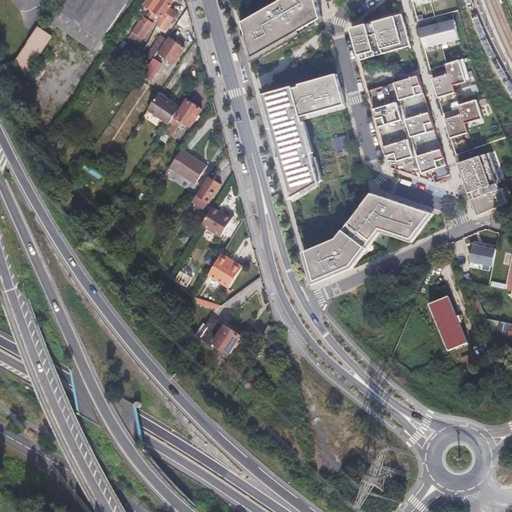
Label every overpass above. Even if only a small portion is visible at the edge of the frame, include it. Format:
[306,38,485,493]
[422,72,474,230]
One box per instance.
[0,222,126,512]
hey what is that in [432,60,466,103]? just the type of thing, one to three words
house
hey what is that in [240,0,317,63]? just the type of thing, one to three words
building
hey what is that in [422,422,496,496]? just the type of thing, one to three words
roundabout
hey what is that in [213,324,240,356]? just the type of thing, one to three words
house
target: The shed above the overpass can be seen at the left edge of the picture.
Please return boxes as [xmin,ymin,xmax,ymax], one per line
[16,26,52,70]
